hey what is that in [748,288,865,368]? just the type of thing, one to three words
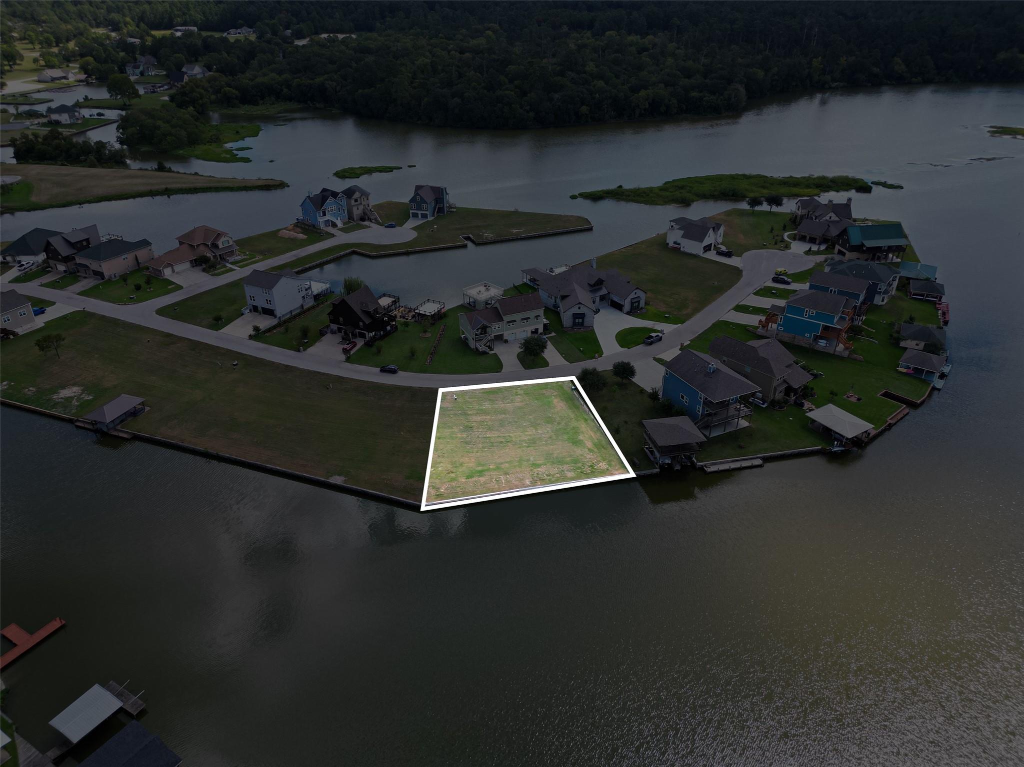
house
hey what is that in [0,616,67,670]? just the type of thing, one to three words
pier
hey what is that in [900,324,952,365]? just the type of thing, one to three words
building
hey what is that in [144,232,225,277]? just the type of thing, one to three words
house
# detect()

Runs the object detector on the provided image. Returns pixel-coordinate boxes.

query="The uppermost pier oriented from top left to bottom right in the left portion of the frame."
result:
[106,679,148,719]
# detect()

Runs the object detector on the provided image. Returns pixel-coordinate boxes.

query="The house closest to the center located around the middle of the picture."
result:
[457,289,549,358]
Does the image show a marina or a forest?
marina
